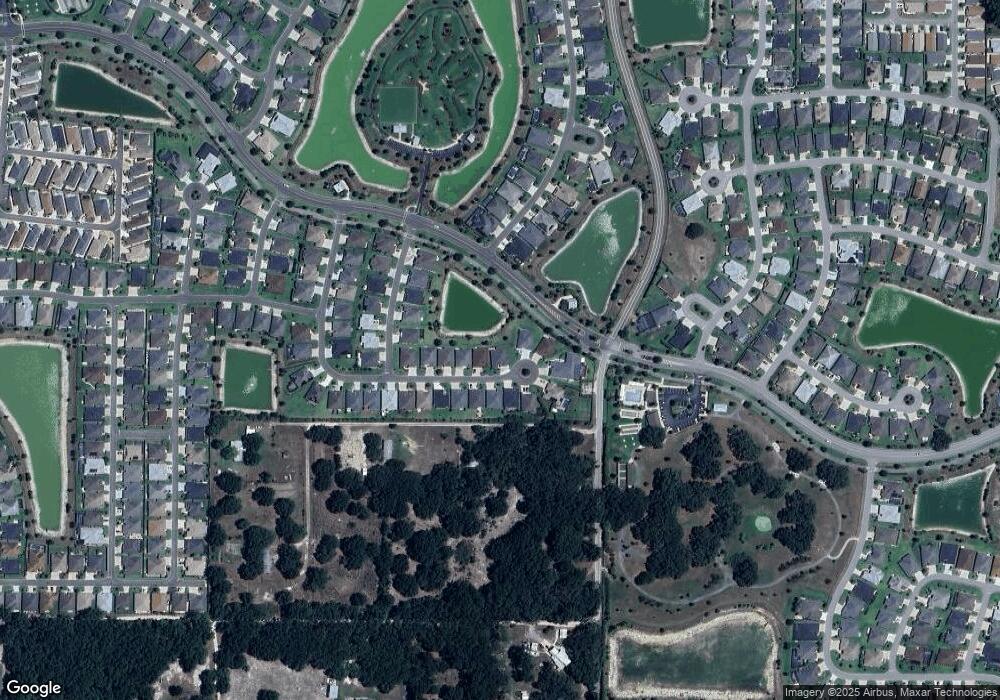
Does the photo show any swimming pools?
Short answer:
Yes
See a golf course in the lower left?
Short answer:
No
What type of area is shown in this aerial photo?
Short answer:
residential area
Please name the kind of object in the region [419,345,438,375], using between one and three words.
house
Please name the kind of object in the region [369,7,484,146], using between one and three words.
golf course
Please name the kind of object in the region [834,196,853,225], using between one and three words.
house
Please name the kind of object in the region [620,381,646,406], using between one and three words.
swimming pool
